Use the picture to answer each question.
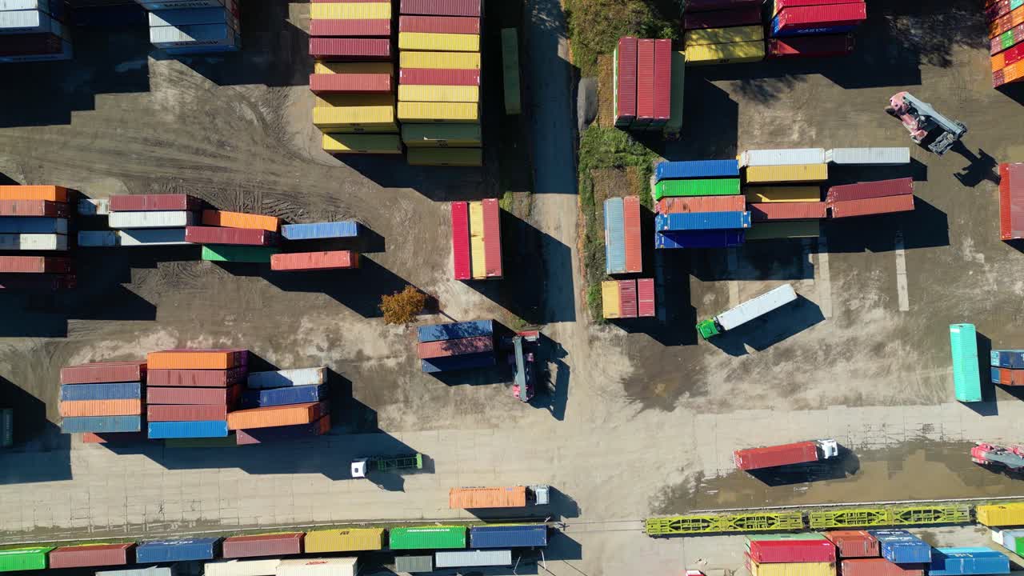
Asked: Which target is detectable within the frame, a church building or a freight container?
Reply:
freight container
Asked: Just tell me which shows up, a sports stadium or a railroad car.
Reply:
railroad car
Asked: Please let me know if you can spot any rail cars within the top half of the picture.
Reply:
No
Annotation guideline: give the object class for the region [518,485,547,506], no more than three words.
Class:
truck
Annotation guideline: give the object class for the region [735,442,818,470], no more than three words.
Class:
shipping container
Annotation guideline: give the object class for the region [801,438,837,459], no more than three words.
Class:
truck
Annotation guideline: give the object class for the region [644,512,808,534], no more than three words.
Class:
rail car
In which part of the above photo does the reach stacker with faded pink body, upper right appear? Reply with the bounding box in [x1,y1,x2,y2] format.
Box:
[881,94,973,156]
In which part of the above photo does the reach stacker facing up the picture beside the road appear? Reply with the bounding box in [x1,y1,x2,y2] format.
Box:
[495,321,536,404]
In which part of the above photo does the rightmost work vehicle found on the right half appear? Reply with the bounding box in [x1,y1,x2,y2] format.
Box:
[964,440,1024,482]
